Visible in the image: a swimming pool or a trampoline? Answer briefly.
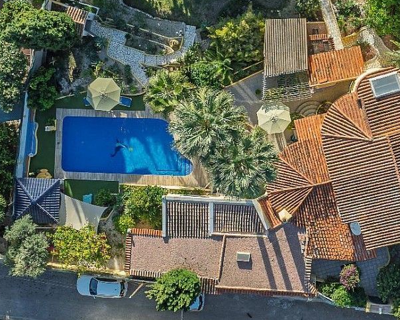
swimming pool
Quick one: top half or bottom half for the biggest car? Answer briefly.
bottom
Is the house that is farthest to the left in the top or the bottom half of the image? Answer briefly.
top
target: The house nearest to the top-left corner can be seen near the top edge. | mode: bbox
[66,6,96,38]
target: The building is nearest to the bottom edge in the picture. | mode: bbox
[122,221,322,304]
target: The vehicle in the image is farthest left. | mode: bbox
[77,274,128,302]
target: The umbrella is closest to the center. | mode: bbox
[257,102,292,136]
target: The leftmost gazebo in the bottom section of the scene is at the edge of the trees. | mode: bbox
[12,177,67,225]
